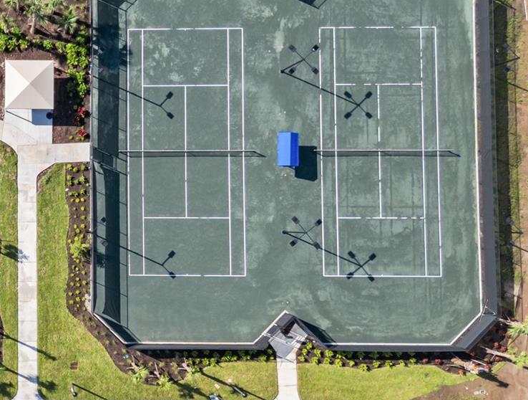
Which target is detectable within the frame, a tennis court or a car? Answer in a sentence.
I can see a tennis court in this picture.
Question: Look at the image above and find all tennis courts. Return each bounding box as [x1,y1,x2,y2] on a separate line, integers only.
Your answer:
[91,0,484,345]
[129,29,245,276]
[321,28,440,275]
